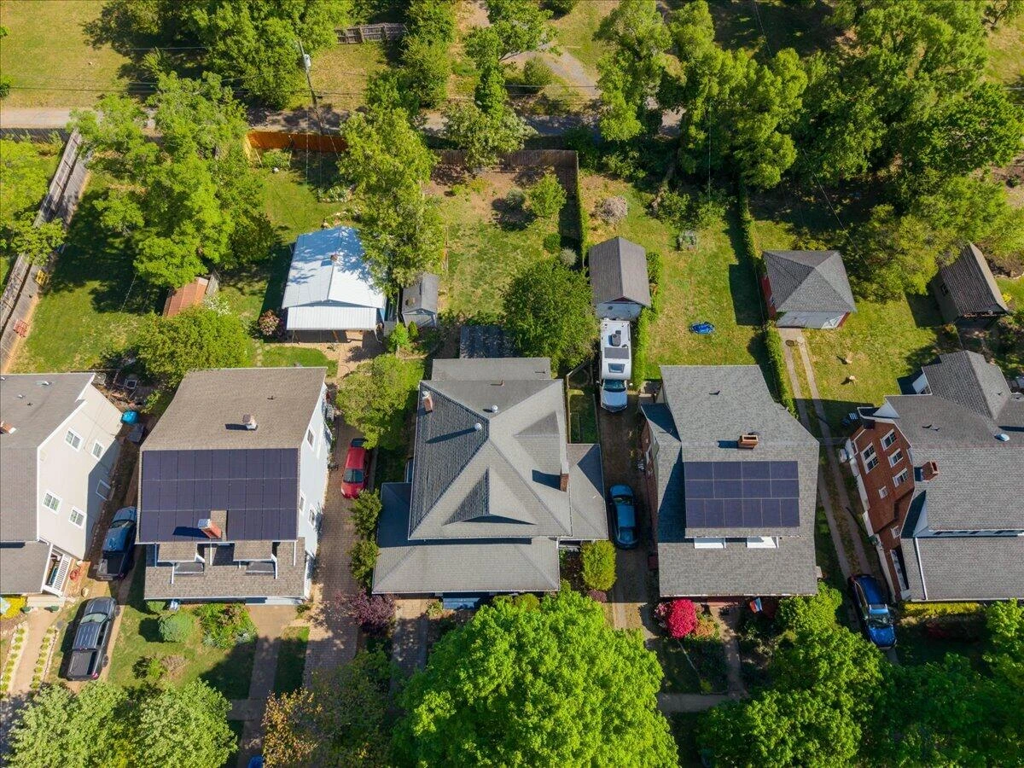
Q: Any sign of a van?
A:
Yes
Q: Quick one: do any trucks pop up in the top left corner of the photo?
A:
No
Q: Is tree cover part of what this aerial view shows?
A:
Yes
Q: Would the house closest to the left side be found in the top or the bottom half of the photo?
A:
bottom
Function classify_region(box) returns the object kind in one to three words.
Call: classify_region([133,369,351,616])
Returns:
house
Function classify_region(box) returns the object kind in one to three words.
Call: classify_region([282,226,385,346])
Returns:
building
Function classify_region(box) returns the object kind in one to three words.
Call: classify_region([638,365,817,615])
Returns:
house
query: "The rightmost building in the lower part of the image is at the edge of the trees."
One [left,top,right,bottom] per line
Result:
[842,350,1024,607]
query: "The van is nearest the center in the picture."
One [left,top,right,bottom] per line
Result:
[594,321,631,412]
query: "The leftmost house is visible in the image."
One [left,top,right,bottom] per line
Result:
[0,374,122,628]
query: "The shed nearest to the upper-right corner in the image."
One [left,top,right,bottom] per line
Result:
[923,247,1012,332]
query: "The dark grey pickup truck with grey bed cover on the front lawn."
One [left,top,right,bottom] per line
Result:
[59,593,126,693]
